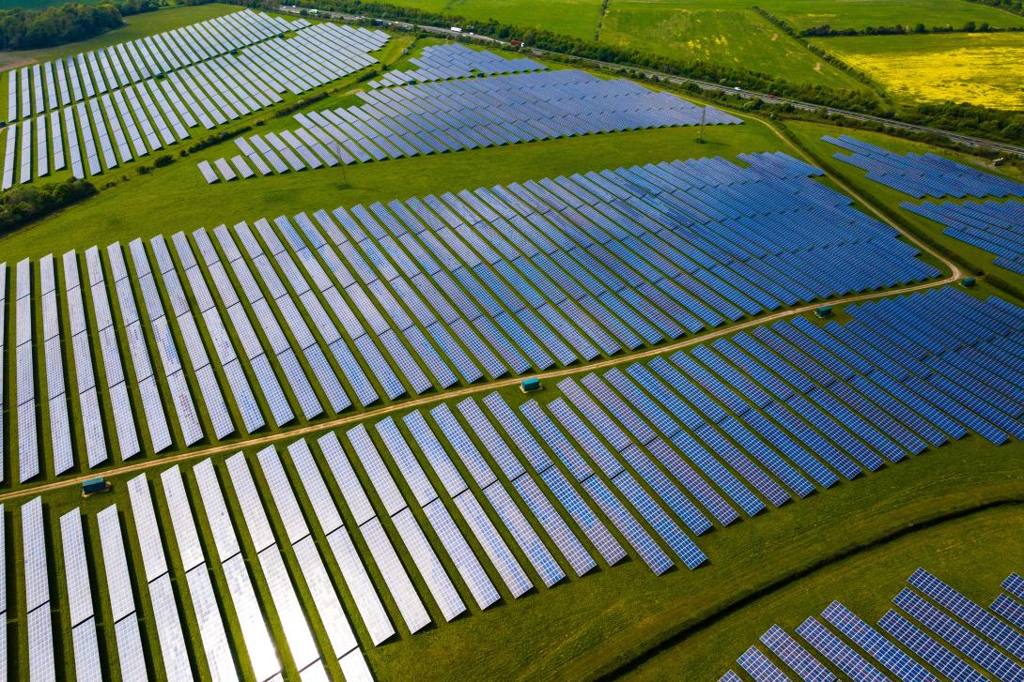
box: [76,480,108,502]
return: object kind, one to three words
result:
building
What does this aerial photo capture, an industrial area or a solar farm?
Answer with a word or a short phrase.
solar farm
